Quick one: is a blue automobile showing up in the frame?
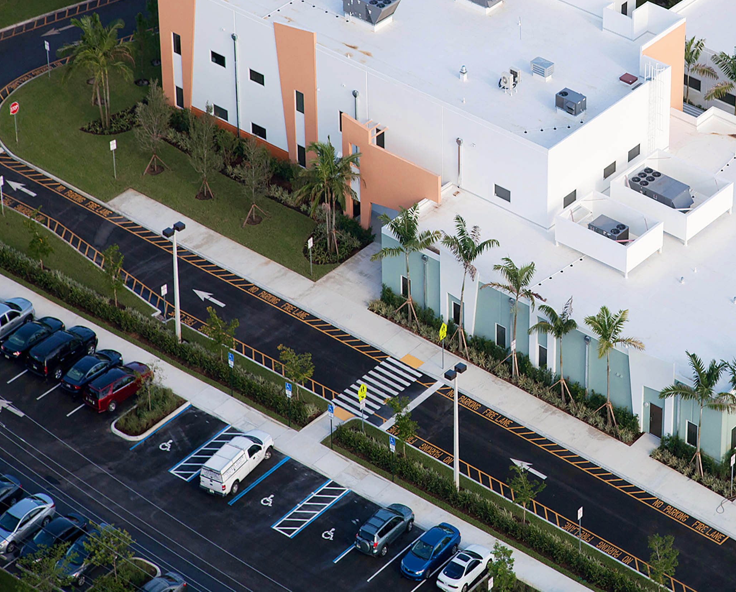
Yes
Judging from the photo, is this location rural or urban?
urban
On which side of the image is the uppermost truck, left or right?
left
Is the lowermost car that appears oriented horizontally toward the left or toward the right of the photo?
left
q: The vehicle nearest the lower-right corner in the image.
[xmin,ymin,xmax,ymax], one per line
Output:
[430,541,500,592]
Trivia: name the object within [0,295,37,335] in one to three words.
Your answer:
truck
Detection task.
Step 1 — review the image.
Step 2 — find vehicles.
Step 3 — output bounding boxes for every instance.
[0,314,65,364]
[430,541,500,592]
[394,525,465,582]
[28,507,95,564]
[0,295,37,335]
[0,474,19,505]
[54,349,127,400]
[83,363,158,415]
[190,429,279,495]
[22,326,102,382]
[0,496,59,554]
[349,505,420,558]
[127,563,190,592]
